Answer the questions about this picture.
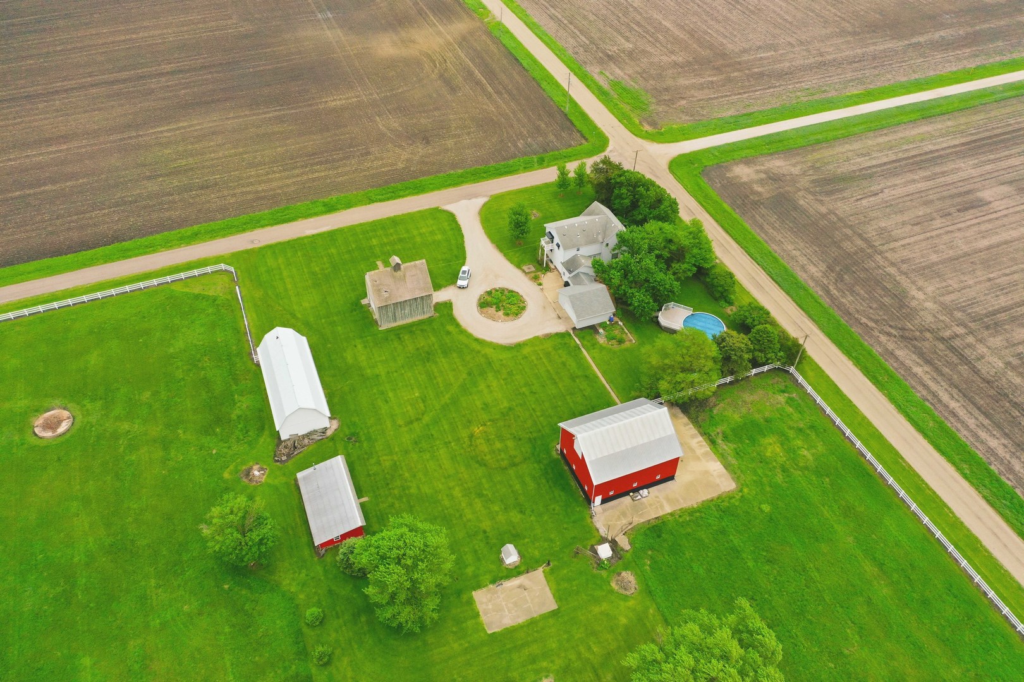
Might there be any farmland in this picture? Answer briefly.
Yes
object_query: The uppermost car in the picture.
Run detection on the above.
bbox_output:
[458,265,471,286]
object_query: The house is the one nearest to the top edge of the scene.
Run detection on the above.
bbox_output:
[539,201,632,288]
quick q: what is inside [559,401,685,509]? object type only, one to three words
barn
